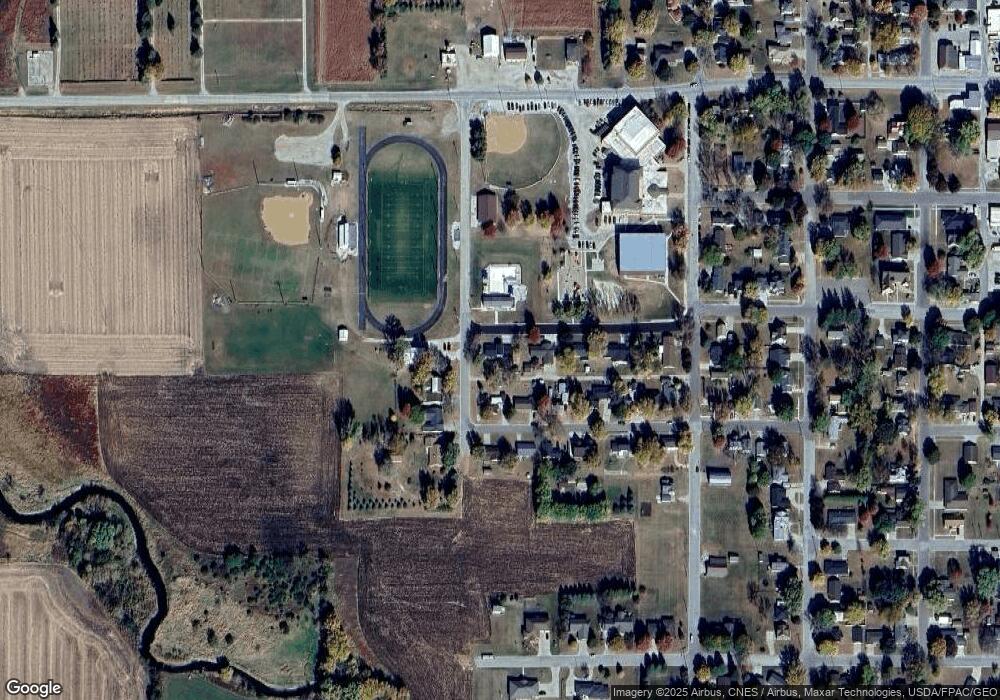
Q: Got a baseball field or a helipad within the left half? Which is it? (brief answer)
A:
baseball field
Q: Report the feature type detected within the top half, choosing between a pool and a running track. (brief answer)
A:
running track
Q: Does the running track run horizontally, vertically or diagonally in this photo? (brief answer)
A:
vertically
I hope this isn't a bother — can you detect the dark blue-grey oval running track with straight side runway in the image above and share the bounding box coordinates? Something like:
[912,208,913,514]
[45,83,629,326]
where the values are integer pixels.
[359,127,447,339]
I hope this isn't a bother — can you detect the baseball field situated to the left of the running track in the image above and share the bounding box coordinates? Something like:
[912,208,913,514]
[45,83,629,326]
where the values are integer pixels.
[261,190,314,246]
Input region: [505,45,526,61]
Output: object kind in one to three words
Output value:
building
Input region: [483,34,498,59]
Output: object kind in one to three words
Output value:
barn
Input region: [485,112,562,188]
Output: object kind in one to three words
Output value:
baseball field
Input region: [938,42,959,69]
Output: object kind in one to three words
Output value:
house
